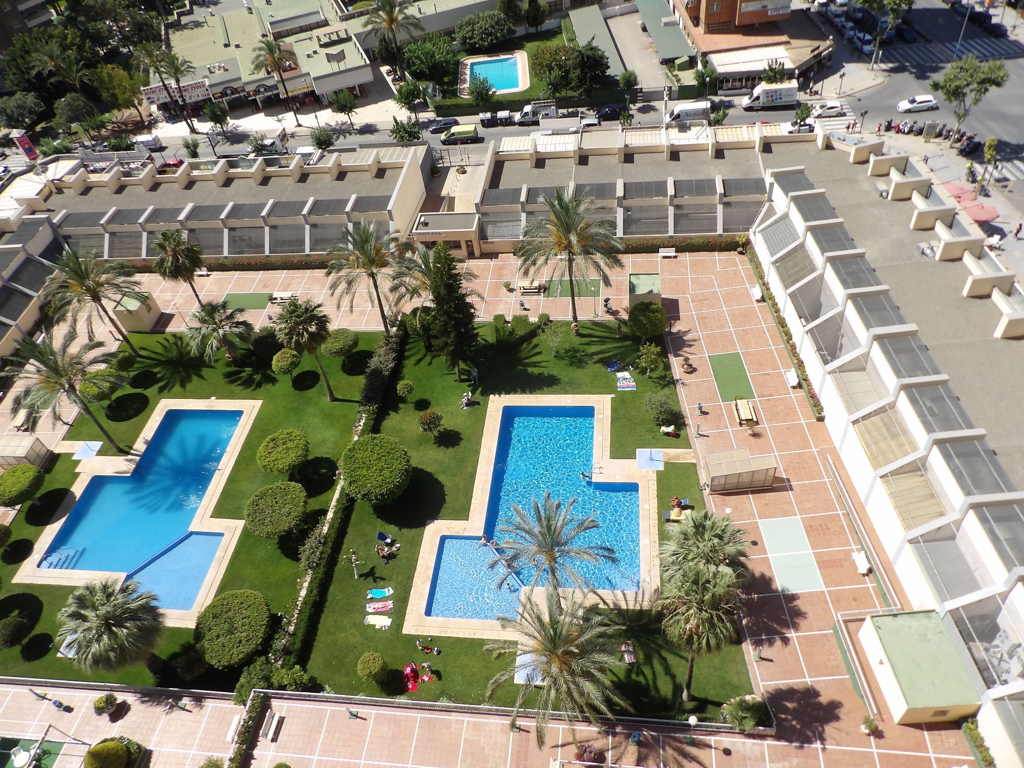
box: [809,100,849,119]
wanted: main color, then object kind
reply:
white car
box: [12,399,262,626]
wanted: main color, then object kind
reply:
blue swimming pool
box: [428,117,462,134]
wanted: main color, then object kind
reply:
gray car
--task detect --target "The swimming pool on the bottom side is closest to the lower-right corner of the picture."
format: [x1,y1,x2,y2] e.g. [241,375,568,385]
[402,394,660,650]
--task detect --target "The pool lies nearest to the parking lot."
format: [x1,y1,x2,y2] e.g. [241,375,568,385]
[461,51,529,93]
